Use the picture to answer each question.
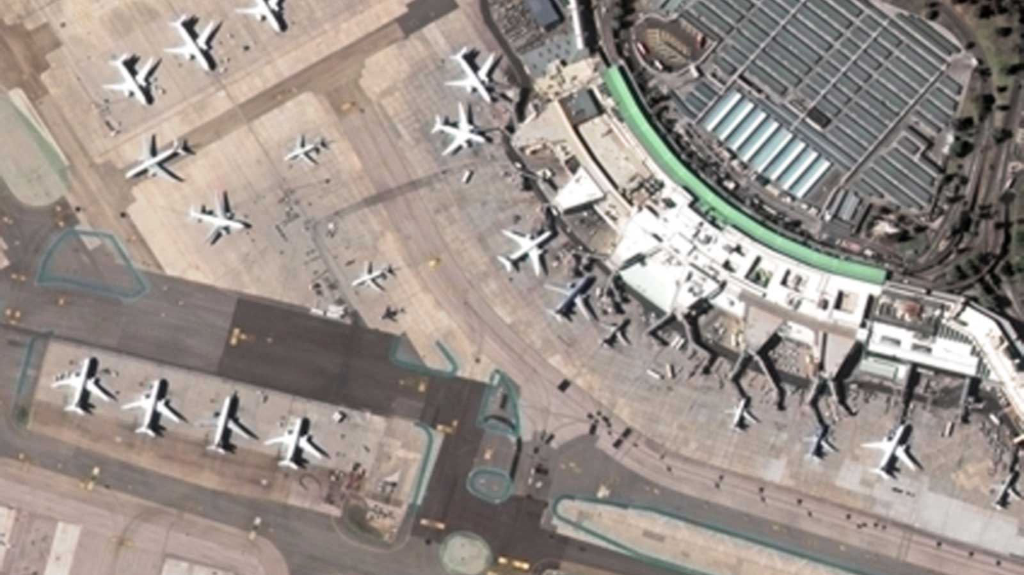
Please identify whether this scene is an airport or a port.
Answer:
airport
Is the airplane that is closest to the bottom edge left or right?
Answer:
right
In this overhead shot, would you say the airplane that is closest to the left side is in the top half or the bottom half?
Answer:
bottom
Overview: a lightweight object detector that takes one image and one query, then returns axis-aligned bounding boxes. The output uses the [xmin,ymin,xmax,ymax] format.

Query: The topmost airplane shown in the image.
[236,0,281,33]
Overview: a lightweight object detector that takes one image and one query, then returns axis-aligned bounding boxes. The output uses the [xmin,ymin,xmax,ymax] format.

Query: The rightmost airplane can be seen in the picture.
[989,469,1024,513]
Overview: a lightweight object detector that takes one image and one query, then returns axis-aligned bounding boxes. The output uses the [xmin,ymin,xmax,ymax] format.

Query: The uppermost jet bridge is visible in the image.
[491,88,523,112]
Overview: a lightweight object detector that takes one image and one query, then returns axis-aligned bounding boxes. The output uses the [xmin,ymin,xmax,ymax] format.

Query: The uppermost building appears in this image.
[530,0,561,28]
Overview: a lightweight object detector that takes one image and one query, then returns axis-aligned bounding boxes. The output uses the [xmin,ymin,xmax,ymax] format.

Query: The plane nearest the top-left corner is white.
[104,53,155,104]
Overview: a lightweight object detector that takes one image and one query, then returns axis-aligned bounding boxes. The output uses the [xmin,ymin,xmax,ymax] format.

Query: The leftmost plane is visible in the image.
[49,358,108,414]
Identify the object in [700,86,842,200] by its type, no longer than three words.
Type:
building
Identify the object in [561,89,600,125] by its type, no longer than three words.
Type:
building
